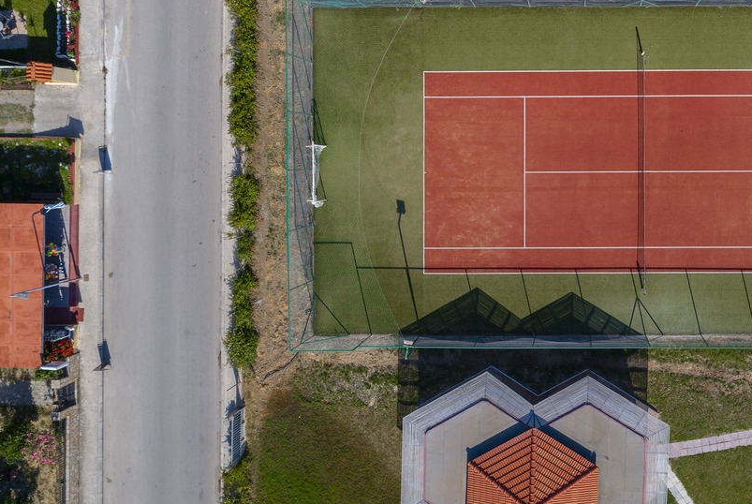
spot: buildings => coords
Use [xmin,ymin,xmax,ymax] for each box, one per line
[0,203,70,368]
[402,367,670,504]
